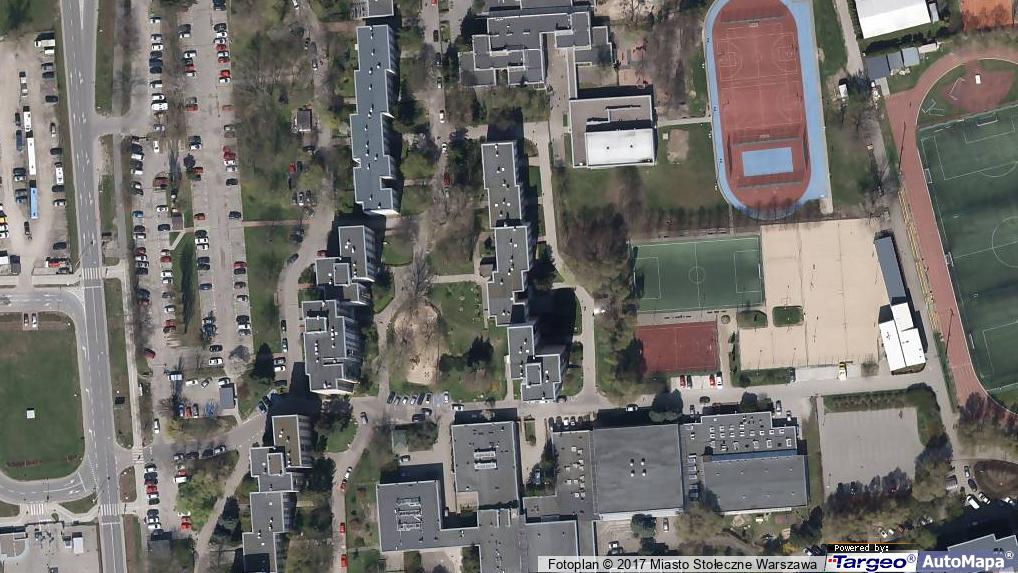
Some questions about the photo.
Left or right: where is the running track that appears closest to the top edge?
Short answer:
right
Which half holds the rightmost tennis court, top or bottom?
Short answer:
top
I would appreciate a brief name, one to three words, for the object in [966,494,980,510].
vehicle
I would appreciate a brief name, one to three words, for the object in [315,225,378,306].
building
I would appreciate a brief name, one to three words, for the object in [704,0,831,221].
running track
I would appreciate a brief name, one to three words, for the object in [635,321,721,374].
basketball court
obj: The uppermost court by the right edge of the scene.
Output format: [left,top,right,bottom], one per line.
[961,0,1013,32]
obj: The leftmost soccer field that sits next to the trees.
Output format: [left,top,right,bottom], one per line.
[633,232,765,314]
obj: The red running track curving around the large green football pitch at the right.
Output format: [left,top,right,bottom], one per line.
[886,46,1018,448]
